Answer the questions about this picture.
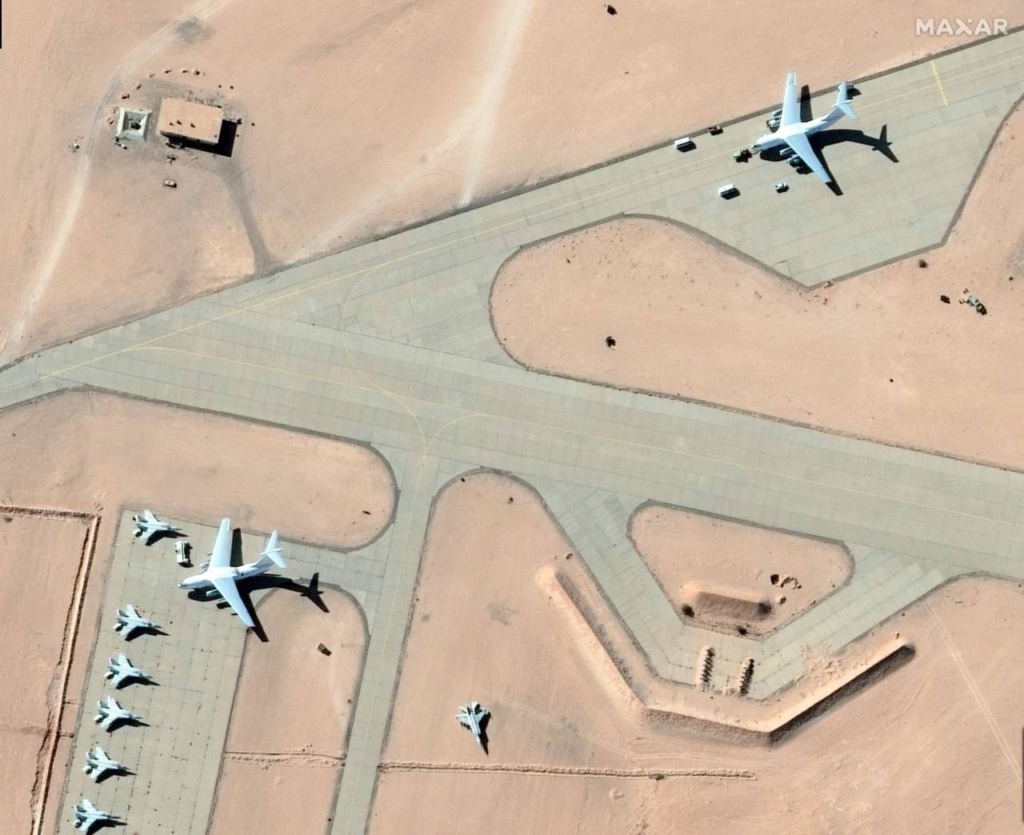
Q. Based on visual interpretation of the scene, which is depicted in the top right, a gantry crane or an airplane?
airplane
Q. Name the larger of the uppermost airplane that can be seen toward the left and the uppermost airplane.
the uppermost airplane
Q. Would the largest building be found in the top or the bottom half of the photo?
top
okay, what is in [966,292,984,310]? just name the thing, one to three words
vehicle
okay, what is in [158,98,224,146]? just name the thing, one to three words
building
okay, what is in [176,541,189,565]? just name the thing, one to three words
vehicle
